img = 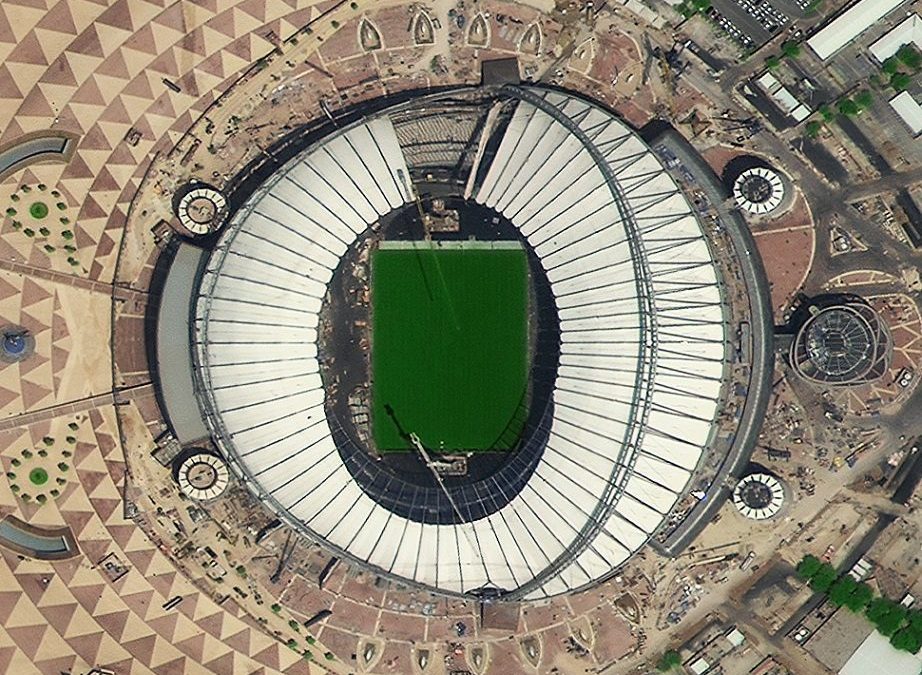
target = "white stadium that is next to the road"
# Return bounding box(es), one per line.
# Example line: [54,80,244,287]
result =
[195,85,729,602]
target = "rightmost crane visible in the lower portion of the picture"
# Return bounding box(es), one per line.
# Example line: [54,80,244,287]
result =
[411,436,475,550]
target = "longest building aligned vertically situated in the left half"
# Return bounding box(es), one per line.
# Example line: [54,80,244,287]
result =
[157,240,212,446]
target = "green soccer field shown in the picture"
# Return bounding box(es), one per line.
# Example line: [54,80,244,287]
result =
[371,238,531,456]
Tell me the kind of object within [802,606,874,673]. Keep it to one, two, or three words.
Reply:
building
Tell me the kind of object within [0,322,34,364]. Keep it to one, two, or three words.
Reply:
fountain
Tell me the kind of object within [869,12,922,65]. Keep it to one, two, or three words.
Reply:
shed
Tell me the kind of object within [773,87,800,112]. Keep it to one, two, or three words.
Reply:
building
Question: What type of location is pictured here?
sports ground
